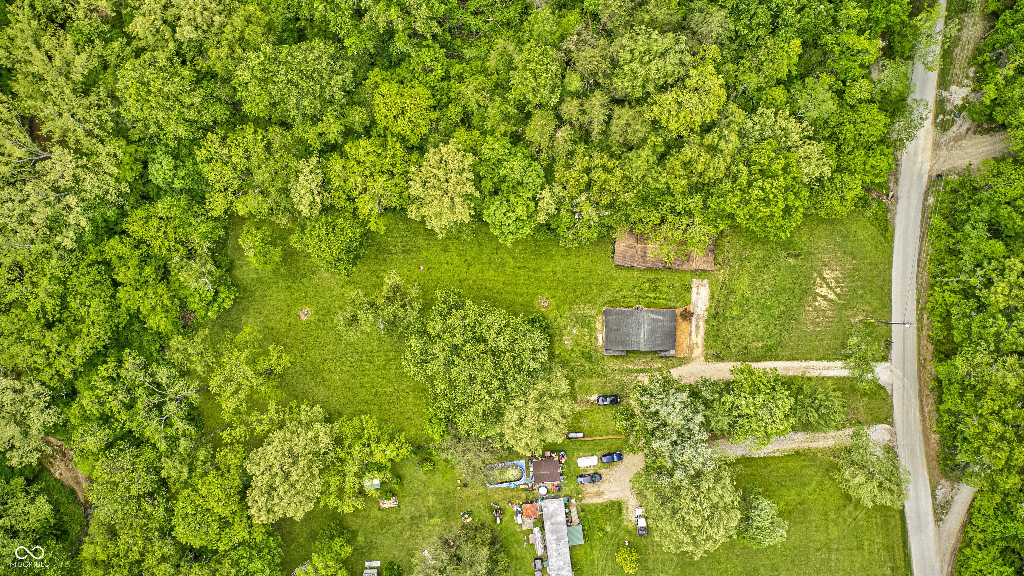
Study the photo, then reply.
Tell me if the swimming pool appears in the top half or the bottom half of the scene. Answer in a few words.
bottom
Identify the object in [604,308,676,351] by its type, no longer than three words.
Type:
house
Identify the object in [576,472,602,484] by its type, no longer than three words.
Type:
vehicle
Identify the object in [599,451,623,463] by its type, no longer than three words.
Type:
vehicle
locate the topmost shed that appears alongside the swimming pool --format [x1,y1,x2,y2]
[533,458,561,484]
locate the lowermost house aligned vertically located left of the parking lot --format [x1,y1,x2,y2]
[542,495,572,576]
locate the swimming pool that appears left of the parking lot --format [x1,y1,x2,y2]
[484,466,526,486]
